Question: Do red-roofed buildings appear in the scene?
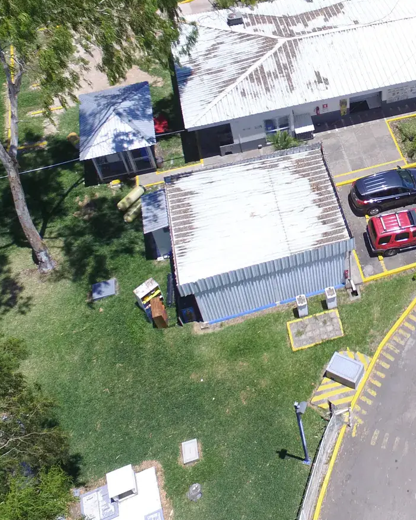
No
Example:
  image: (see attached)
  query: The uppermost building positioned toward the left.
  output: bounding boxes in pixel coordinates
[78,81,157,181]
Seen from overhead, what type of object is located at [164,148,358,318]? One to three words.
shed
